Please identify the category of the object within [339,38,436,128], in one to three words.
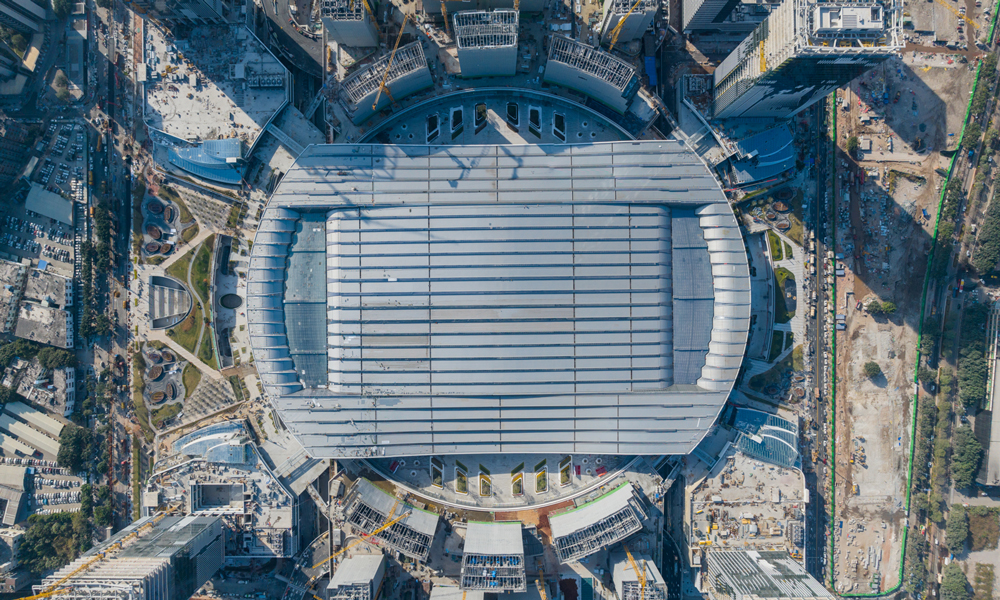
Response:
building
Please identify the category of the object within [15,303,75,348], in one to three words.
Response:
building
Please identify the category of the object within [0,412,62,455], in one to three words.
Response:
shed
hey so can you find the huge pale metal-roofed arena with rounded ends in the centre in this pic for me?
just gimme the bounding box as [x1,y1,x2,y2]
[246,139,752,460]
